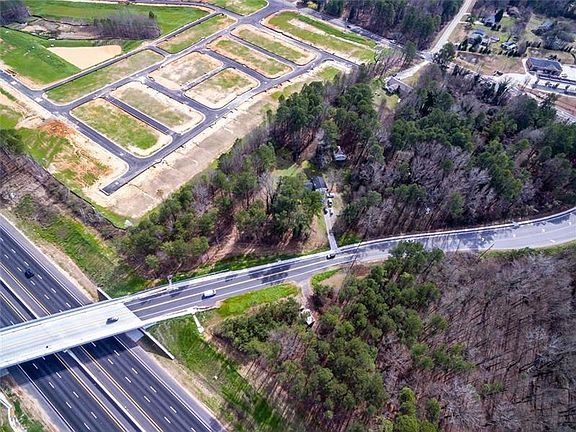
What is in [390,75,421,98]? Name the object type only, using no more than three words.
house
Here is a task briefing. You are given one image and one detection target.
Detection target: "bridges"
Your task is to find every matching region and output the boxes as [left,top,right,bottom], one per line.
[0,296,150,382]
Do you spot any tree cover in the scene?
Yes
